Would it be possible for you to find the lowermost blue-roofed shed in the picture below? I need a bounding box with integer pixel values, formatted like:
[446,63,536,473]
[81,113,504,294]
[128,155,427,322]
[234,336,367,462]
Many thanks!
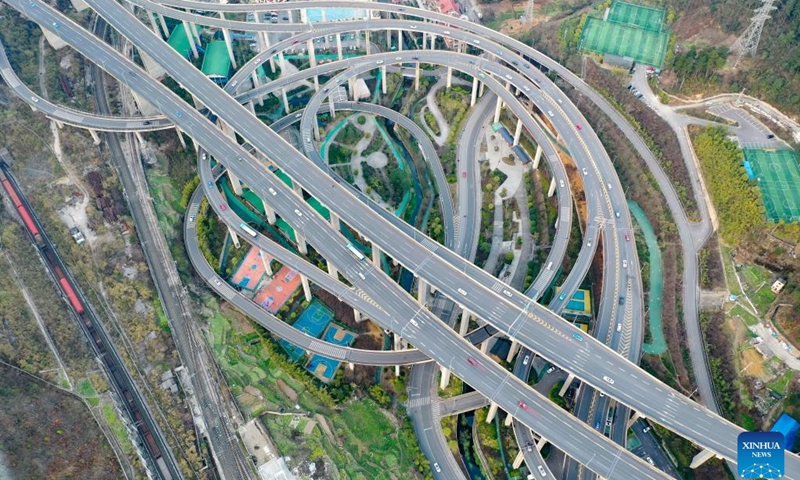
[767,412,800,450]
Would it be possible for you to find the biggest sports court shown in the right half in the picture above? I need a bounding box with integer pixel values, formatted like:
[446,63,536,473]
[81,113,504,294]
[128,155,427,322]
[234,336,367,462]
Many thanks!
[555,283,594,313]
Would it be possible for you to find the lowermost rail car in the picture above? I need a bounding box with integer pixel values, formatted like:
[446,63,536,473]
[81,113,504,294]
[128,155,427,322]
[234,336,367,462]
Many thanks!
[153,454,175,480]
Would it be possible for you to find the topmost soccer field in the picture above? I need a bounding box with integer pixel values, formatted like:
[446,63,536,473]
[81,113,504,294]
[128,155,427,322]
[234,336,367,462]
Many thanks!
[609,0,666,32]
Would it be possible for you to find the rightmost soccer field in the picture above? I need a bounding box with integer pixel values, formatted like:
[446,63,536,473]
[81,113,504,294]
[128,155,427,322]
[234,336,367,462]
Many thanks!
[743,144,800,221]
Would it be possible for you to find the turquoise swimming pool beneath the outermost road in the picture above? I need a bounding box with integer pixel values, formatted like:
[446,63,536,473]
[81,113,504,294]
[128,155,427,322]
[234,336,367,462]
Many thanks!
[300,0,370,22]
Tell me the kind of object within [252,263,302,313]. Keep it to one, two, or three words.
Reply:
basketball court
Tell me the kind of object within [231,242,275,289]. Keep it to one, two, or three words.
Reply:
basketball court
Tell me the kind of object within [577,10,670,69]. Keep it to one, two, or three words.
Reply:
soccer field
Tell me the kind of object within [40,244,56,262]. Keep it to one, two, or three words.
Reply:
rail car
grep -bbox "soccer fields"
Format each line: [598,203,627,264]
[743,144,800,221]
[609,0,666,32]
[577,10,670,69]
